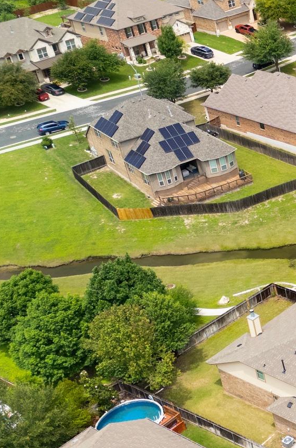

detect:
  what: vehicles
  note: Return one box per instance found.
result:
[28,88,50,99]
[42,84,64,94]
[36,118,67,133]
[234,23,252,37]
[190,45,213,57]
